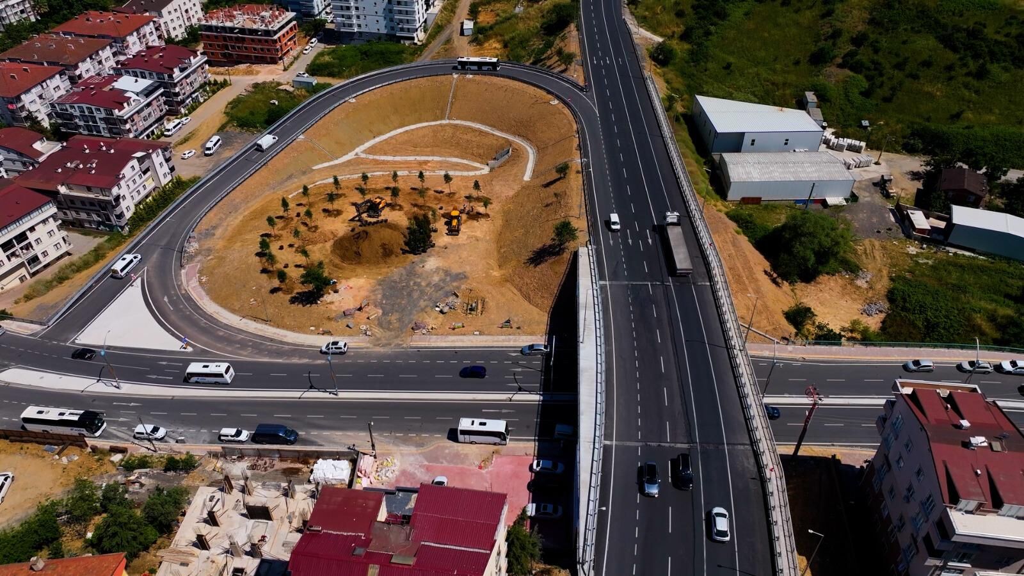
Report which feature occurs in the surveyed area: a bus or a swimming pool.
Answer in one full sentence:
Of the two, only a bus appears.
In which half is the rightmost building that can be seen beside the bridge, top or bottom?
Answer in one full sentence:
The rightmost building that can be seen beside the bridge is in the bottom half of the image.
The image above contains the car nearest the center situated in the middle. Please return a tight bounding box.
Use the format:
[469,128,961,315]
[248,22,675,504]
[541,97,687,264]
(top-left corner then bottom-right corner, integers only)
[520,342,550,356]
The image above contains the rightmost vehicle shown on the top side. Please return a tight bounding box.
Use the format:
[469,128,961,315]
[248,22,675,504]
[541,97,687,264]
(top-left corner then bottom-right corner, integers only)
[875,174,901,196]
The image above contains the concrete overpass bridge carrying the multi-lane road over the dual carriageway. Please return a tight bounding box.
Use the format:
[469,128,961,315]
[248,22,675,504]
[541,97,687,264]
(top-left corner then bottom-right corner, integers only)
[571,78,800,576]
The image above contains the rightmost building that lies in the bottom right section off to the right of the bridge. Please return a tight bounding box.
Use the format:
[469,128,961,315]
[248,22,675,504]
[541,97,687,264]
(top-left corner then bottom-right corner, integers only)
[855,375,1024,576]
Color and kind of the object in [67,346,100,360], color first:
black car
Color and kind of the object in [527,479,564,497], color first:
black car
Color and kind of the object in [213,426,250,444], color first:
white vehicle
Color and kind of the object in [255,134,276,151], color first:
white vehicle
